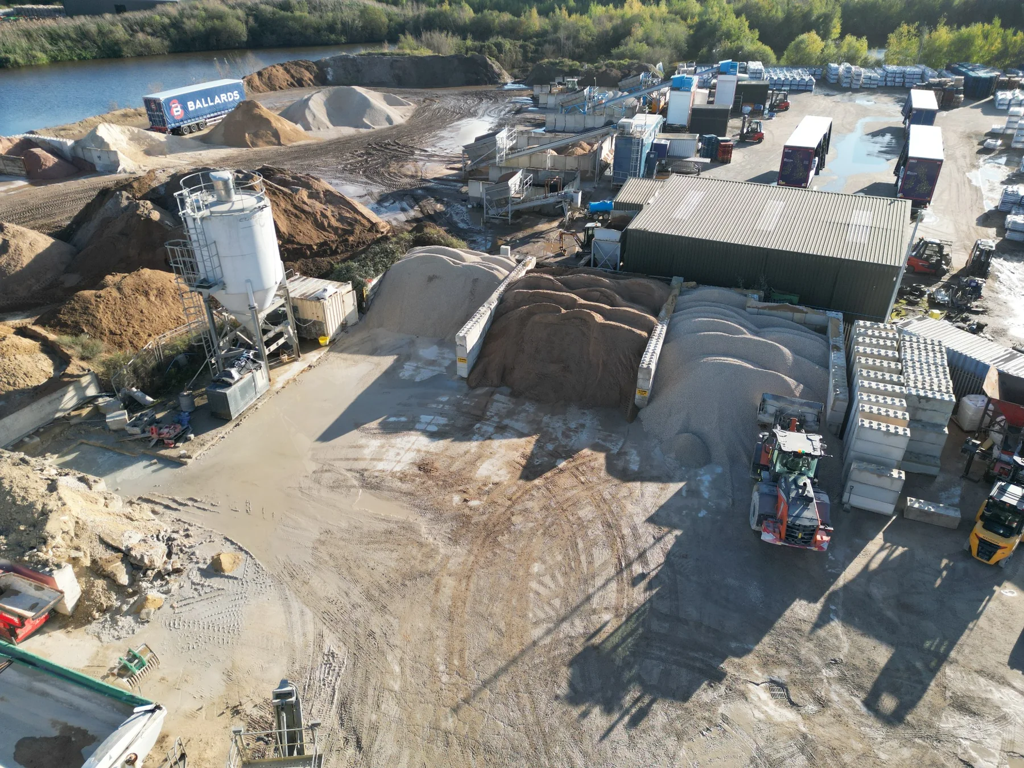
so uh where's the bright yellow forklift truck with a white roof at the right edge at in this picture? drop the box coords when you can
[969,472,1024,567]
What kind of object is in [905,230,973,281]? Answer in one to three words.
work vehicle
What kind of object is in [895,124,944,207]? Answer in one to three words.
trailer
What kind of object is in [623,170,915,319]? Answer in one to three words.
shed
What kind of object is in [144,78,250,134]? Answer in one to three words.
trailer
